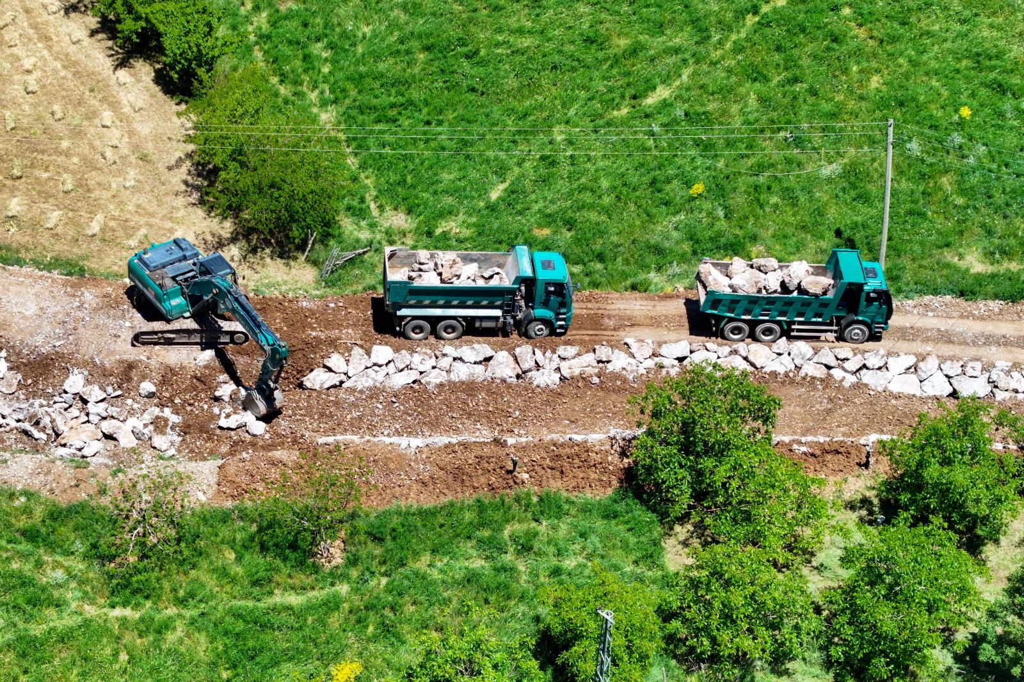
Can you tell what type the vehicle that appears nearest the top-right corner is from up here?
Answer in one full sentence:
It looks like the vehicle that appears nearest the top-right corner is a truck.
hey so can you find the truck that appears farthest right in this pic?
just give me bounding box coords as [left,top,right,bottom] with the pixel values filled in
[695,247,895,343]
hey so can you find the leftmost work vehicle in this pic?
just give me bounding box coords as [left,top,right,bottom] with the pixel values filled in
[129,230,291,411]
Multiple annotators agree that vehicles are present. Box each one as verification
[695,247,895,343]
[129,230,291,411]
[383,244,578,340]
